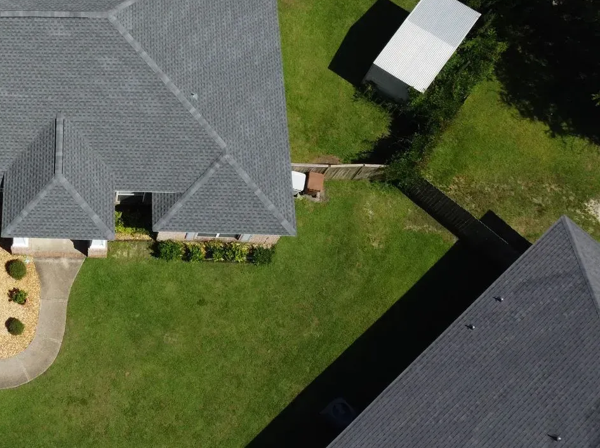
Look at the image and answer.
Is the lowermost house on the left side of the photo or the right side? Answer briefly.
right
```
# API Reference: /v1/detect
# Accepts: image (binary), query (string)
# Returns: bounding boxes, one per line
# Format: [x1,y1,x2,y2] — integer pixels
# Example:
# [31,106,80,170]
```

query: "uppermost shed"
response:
[364,0,482,107]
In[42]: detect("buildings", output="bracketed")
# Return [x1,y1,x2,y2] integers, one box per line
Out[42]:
[0,0,298,263]
[364,0,482,107]
[326,217,600,448]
